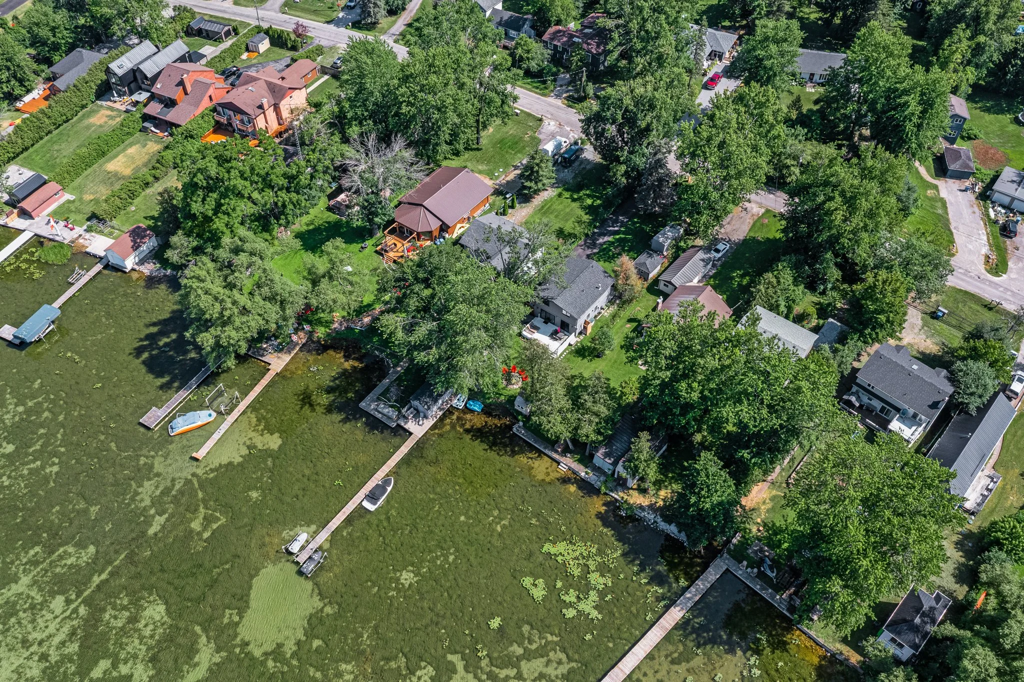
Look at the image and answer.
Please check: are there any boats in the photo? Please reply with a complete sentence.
Yes, this view includes a boat.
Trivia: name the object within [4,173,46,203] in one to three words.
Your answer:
shed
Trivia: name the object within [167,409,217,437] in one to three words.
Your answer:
boat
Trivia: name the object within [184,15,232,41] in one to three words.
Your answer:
building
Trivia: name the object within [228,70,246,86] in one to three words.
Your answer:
car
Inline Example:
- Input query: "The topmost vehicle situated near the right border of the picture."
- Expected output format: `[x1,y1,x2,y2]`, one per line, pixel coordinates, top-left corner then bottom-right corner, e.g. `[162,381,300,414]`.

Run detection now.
[1002,221,1019,241]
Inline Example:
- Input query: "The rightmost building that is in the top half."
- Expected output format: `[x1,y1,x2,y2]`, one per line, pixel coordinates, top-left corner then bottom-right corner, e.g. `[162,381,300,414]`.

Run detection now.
[989,165,1024,213]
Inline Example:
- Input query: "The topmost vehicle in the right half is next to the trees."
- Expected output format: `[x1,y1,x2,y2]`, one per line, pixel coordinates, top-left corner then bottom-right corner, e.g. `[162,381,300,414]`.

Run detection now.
[708,72,724,90]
